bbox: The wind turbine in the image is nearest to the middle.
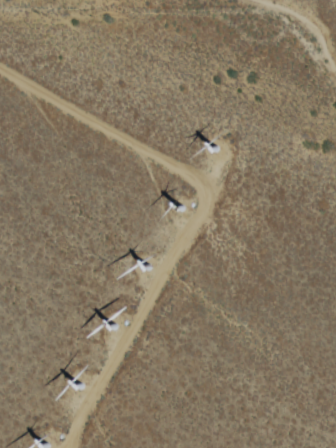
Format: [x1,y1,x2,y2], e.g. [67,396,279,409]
[156,191,188,222]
